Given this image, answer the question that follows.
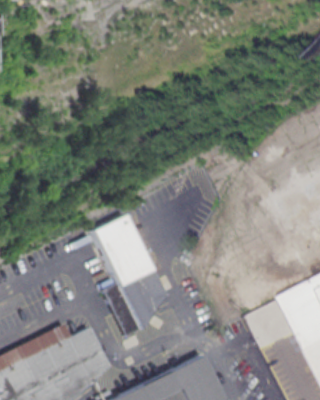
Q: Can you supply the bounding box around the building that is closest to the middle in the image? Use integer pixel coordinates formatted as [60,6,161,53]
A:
[87,213,170,336]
